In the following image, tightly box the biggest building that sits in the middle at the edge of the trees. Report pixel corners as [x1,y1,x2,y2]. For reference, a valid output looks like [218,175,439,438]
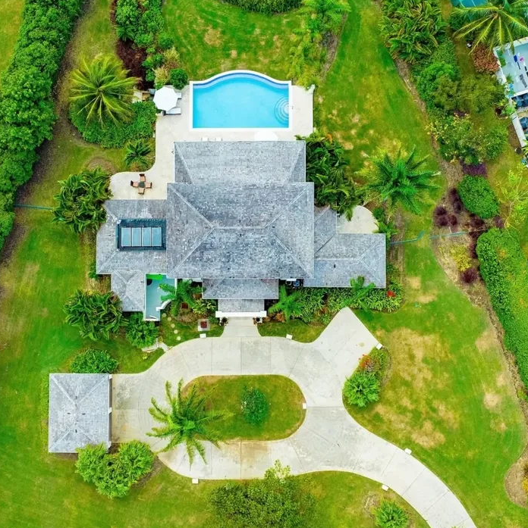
[95,140,387,319]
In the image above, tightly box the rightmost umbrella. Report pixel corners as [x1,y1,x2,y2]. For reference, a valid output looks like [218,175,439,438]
[255,125,276,140]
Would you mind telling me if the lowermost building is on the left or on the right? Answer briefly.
left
